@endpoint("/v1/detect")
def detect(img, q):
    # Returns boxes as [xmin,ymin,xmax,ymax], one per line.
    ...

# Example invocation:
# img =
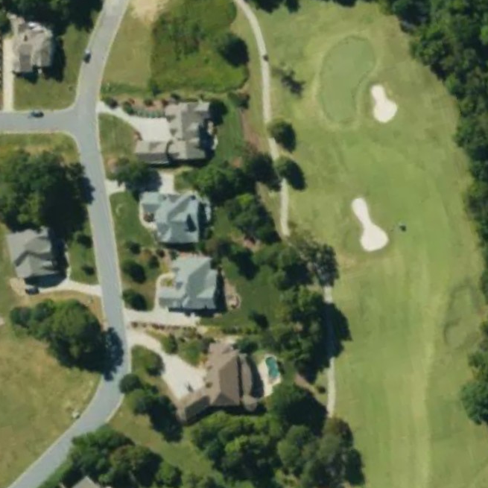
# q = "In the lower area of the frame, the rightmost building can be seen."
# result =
[205,342,260,413]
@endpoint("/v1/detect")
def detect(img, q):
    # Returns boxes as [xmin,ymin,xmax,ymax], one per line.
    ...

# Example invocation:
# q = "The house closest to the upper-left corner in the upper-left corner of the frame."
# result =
[13,23,54,73]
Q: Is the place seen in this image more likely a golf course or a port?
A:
golf course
